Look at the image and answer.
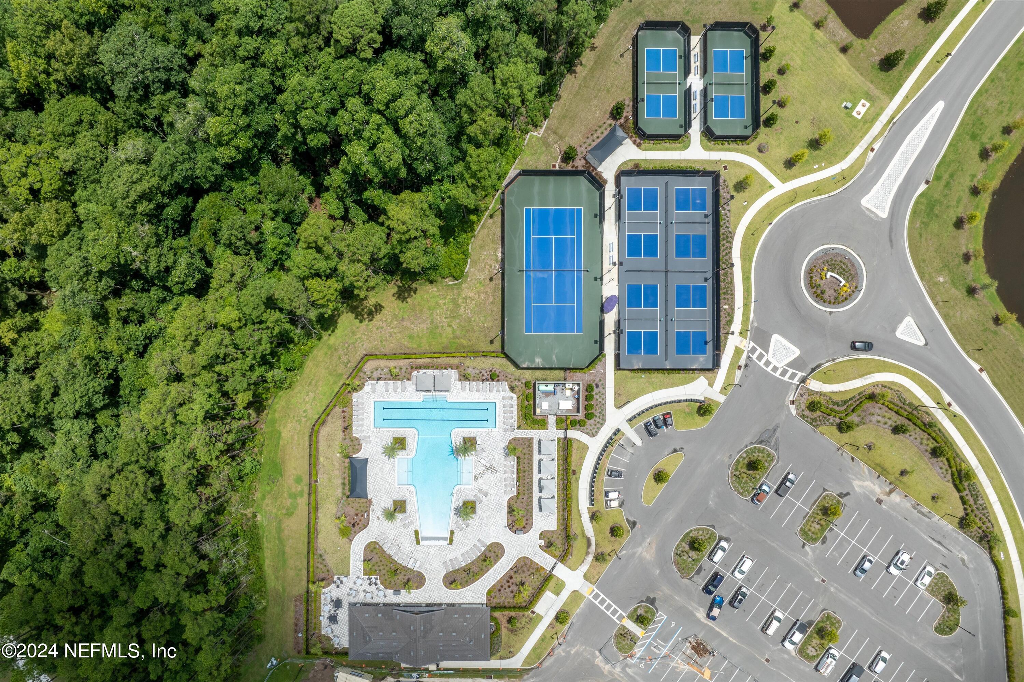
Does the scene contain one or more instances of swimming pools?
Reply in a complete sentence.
Yes, there is a swimming pool in the image.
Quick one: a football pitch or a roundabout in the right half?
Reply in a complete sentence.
You can see a roundabout in the right half.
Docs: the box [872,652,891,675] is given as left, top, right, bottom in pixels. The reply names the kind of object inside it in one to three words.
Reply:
car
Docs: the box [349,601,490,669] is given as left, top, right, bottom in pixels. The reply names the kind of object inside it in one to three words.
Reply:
building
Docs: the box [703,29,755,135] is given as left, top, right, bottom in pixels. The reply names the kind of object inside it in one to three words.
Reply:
sports court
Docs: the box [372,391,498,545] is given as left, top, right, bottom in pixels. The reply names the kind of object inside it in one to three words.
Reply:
swimming pool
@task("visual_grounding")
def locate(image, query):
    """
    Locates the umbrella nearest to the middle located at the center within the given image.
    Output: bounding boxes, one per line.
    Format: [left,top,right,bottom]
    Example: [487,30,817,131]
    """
[605,294,620,309]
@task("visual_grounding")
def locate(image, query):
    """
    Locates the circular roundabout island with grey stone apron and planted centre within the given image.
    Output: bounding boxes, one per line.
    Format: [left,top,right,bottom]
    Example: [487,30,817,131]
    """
[801,245,866,310]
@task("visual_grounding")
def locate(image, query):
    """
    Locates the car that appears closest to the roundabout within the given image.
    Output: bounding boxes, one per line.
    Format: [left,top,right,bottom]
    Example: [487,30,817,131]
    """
[851,340,875,352]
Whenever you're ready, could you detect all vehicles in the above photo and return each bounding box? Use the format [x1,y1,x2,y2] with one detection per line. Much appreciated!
[872,652,891,675]
[705,572,726,598]
[733,556,755,581]
[785,622,810,651]
[753,483,772,506]
[777,471,801,501]
[607,491,622,500]
[730,587,751,612]
[709,596,724,623]
[887,550,911,578]
[916,566,937,591]
[817,649,841,682]
[664,415,675,430]
[765,612,786,637]
[851,340,875,352]
[609,470,625,480]
[710,541,730,566]
[646,423,661,440]
[855,555,876,579]
[653,416,666,431]
[846,662,871,682]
